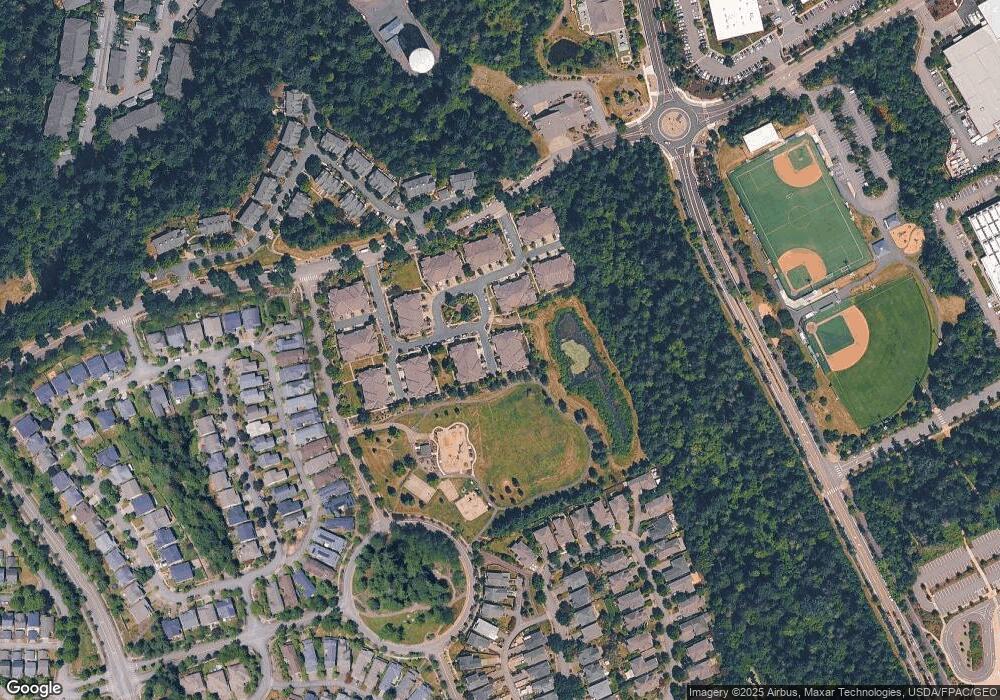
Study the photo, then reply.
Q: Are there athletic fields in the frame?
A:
Yes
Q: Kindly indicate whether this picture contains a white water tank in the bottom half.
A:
No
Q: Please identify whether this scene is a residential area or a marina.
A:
residential area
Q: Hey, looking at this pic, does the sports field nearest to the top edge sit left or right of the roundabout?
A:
on the right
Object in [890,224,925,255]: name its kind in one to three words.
playground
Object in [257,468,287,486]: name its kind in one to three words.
house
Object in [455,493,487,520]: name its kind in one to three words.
sports court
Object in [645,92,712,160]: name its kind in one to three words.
roundabout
